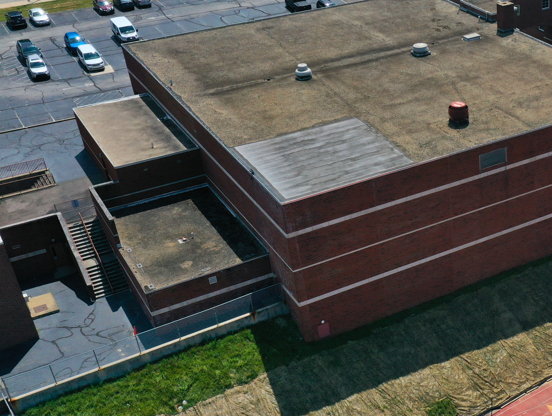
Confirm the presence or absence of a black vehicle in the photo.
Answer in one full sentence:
Yes, the frame does contain a black vehicle.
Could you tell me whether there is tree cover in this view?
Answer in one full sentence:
No, tree cover can't be seen anywhere here.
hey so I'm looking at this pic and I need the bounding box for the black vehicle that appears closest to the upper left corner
[3,11,27,29]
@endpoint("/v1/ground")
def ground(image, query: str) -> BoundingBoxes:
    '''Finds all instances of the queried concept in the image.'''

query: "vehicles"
[113,0,134,11]
[76,45,105,71]
[108,16,137,43]
[131,0,151,8]
[3,11,27,29]
[27,10,49,26]
[23,55,50,80]
[66,32,89,54]
[18,40,45,60]
[91,0,114,15]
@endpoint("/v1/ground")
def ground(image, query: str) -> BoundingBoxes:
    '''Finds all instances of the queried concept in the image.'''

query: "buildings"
[0,235,40,352]
[121,0,552,342]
